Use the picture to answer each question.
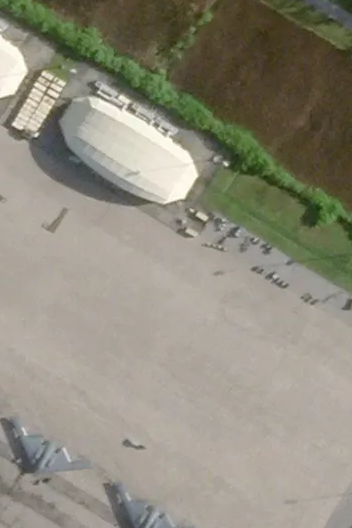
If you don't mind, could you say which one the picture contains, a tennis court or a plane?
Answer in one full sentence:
I can see a plane in this picture.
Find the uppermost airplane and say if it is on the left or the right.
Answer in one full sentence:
You can find the uppermost airplane on the left side of the picture.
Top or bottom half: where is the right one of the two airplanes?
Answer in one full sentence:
The bottom half of the photo is where the right one of the two airplanes is.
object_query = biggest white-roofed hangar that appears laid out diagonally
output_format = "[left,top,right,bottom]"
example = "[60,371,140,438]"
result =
[58,97,197,205]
